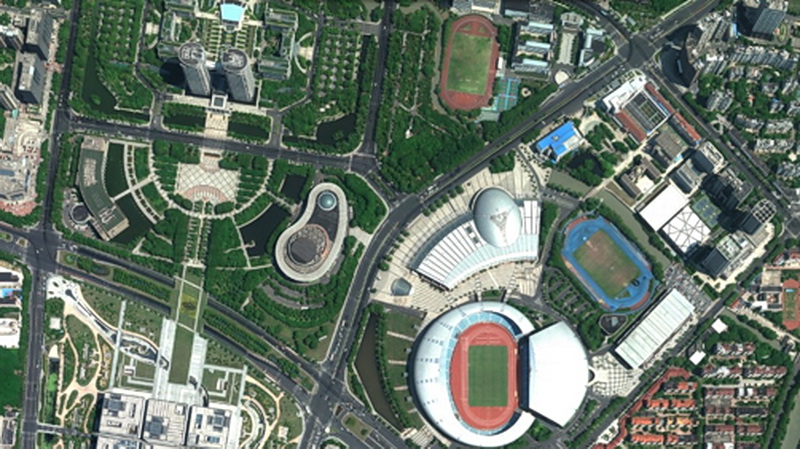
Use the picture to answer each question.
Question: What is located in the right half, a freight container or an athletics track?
athletics track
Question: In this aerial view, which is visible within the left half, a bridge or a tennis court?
bridge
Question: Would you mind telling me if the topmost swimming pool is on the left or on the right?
left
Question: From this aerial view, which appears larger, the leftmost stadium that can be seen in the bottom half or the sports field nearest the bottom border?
the stadium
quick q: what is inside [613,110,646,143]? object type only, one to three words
building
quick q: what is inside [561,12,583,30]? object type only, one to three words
building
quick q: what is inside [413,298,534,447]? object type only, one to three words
stadium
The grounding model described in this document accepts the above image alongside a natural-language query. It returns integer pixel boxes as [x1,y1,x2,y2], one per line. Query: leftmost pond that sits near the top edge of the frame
[82,0,149,121]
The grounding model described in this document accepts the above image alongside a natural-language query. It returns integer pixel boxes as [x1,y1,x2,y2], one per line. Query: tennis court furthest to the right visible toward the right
[692,195,720,228]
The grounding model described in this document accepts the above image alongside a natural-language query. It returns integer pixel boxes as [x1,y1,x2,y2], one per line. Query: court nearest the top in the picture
[492,78,520,110]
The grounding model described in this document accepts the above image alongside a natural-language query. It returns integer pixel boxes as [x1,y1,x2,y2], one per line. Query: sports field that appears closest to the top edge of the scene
[446,31,491,95]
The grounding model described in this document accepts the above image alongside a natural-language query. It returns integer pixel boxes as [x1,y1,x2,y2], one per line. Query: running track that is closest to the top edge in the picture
[441,14,496,110]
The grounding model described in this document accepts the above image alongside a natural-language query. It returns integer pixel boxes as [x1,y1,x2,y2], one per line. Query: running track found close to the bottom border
[450,321,519,429]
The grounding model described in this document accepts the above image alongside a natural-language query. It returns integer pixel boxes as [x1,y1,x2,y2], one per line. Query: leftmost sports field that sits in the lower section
[468,346,507,406]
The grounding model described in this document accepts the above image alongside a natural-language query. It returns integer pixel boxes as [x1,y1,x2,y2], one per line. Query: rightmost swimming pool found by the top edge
[219,0,252,26]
